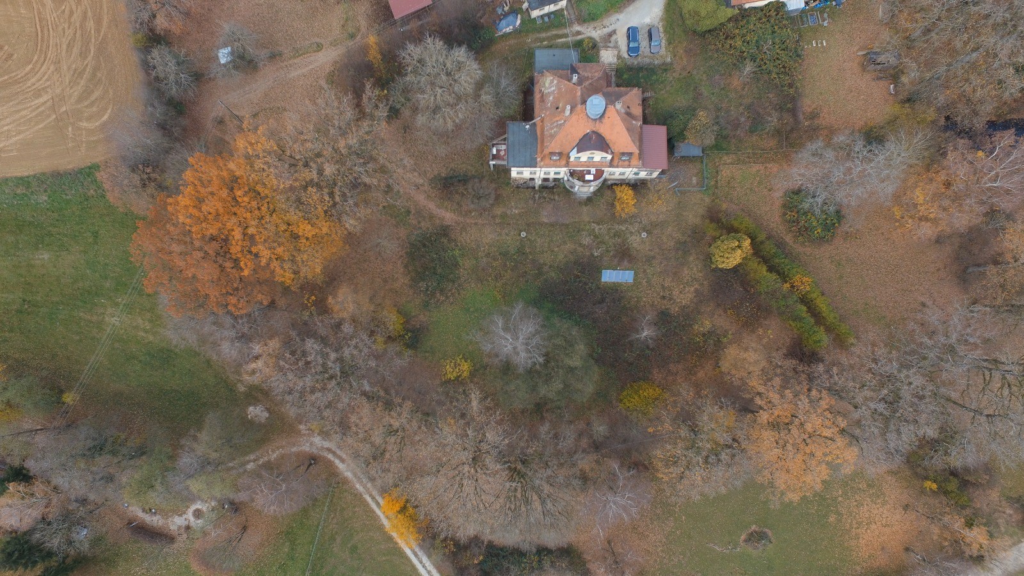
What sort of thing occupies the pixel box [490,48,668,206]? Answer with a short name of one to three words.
house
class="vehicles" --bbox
[648,29,661,54]
[626,29,640,56]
